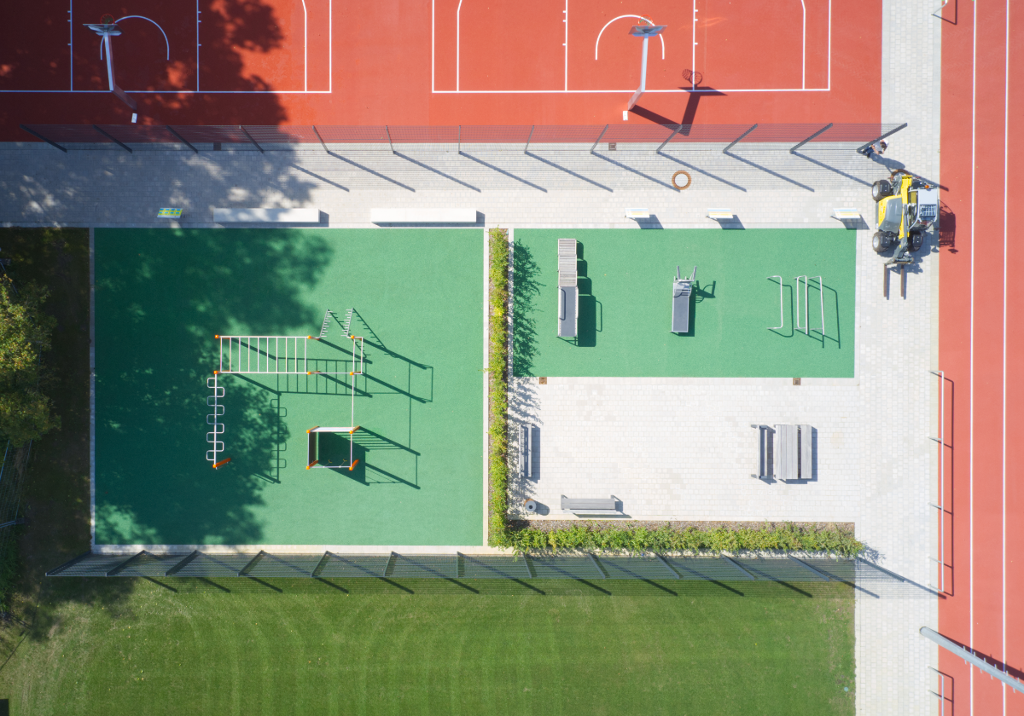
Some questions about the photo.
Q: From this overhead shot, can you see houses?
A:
No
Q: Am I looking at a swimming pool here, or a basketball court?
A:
basketball court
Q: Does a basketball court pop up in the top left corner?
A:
Yes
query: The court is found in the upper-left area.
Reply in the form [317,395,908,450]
[0,0,381,142]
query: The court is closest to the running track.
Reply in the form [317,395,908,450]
[381,0,882,142]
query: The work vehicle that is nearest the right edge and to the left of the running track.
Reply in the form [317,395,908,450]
[870,168,939,296]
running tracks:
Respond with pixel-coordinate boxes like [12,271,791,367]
[938,0,1024,716]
